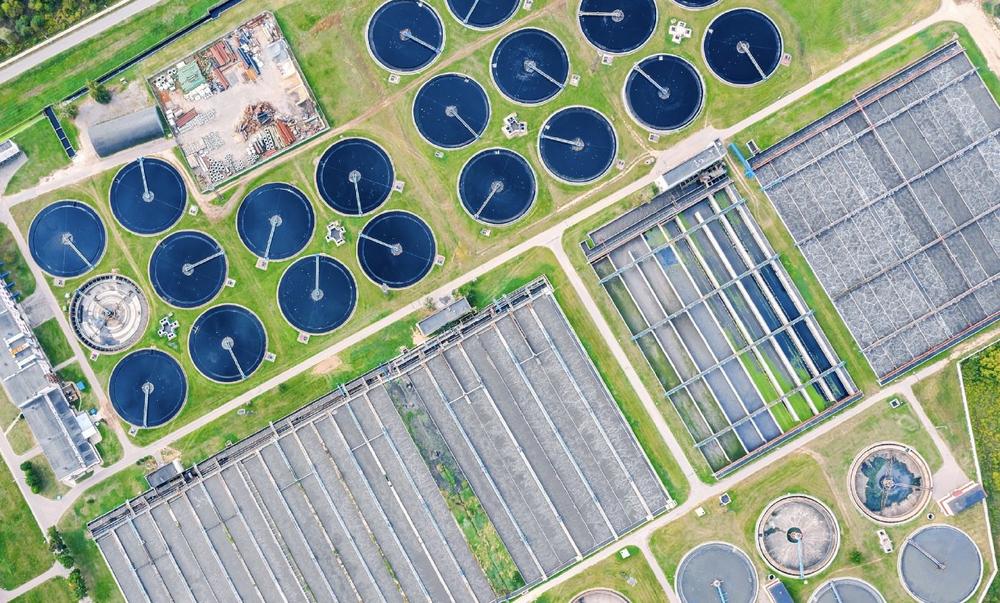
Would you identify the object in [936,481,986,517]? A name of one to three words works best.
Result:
shed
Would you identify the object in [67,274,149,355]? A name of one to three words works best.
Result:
storage tank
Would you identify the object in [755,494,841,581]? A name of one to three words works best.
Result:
storage tank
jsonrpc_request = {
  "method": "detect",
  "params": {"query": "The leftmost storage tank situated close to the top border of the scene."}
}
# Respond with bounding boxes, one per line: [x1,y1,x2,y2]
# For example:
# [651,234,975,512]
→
[365,0,445,74]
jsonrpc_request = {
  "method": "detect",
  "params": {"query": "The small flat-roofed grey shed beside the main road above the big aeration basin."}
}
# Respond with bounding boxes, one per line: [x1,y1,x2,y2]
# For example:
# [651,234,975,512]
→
[417,298,472,335]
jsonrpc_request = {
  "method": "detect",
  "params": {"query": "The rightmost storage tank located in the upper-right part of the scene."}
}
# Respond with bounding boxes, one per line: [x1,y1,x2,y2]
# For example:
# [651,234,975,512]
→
[701,5,784,88]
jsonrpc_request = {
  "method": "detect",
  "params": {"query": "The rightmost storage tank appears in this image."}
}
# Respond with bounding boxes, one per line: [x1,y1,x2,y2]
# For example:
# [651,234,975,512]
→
[897,523,984,603]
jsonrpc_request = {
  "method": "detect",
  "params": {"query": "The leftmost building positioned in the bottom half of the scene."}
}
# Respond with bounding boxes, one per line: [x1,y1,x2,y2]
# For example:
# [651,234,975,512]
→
[0,261,105,489]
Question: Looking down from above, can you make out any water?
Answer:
Yes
